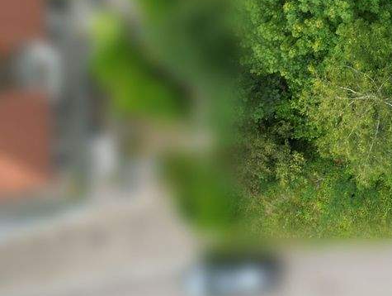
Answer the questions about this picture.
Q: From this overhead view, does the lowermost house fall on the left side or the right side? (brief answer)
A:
left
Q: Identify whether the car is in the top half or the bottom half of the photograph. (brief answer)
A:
bottom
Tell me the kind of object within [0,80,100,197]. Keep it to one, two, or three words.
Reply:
house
